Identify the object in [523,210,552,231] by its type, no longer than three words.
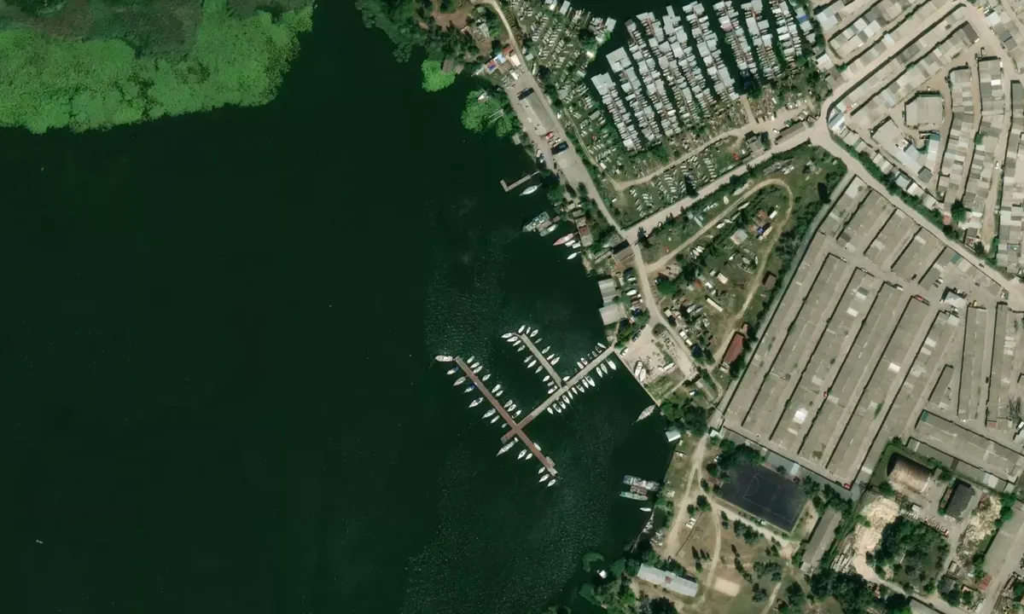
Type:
ship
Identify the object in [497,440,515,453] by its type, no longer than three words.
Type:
boat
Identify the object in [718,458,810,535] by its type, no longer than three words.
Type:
sports court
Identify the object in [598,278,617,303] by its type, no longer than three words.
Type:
building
